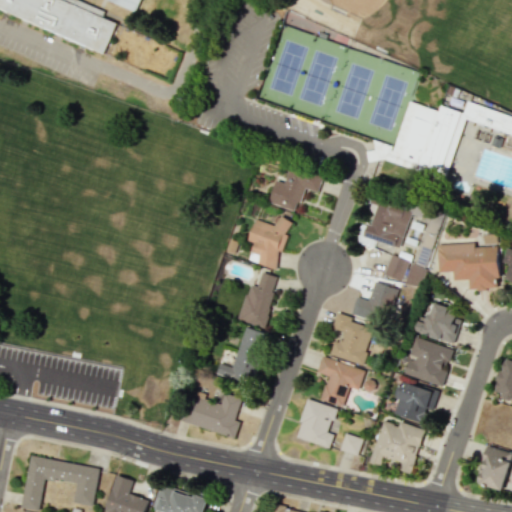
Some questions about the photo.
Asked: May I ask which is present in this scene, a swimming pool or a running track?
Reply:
swimming pool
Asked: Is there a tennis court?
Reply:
Yes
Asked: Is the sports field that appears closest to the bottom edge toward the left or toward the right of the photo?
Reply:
left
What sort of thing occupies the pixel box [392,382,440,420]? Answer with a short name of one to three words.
house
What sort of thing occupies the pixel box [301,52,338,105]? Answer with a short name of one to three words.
tennis court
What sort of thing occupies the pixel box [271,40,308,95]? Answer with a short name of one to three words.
tennis court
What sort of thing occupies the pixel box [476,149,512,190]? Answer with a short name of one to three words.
swimming pool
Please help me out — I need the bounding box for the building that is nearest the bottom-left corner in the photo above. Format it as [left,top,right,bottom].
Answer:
[20,455,98,512]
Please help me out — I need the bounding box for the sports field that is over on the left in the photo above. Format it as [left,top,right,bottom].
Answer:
[0,67,262,432]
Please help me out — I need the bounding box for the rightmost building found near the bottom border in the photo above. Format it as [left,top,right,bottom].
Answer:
[478,447,511,491]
